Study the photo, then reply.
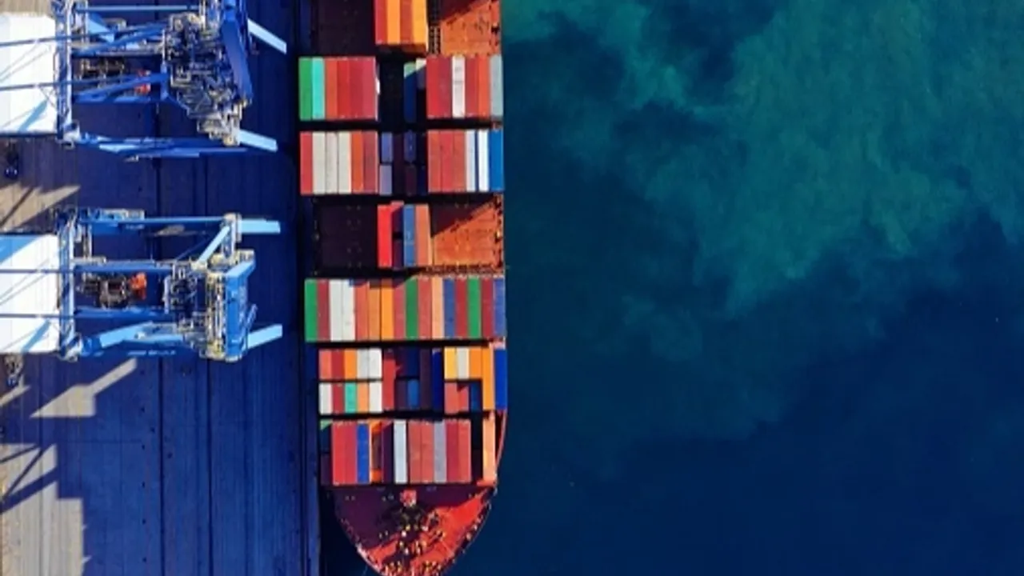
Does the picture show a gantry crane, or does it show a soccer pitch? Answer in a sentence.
The image shows a gantry crane.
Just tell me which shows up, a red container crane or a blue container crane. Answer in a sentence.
Looking from above, you can make out a blue container crane.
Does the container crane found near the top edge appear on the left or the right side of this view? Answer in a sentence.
You can find the container crane found near the top edge on the left side of the picture.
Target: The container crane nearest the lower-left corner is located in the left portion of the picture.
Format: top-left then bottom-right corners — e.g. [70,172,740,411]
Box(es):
[0,203,304,373]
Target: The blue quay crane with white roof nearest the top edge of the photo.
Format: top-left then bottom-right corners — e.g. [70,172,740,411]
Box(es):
[0,0,302,182]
